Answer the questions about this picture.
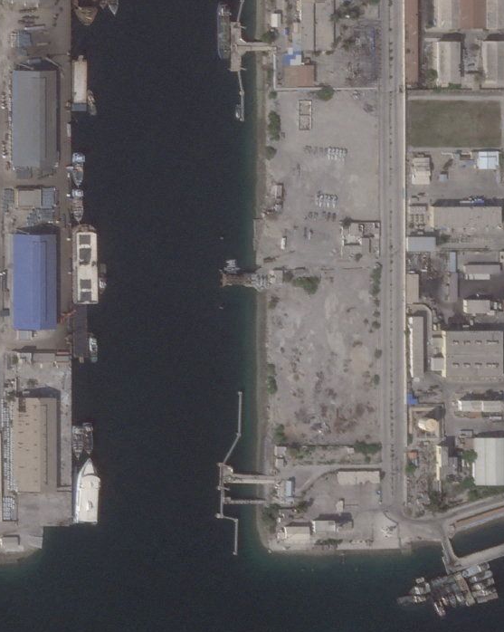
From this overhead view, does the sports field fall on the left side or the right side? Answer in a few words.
right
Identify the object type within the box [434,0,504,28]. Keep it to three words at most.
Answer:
building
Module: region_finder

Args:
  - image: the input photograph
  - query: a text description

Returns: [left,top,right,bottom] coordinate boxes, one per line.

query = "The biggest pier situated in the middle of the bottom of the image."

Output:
[216,391,275,555]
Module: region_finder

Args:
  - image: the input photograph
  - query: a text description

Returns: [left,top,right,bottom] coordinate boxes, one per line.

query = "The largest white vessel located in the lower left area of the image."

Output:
[75,459,101,523]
